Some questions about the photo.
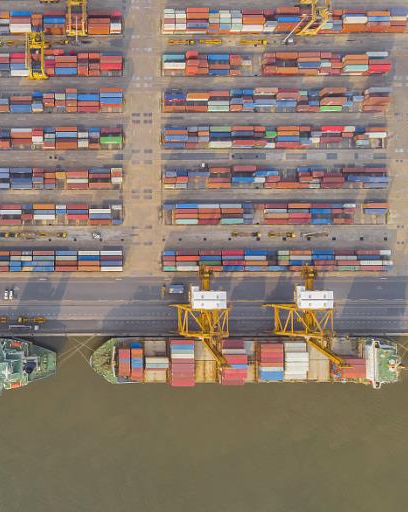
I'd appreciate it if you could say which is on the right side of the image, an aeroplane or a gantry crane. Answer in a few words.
gantry crane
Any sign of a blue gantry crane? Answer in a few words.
No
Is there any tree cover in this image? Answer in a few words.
No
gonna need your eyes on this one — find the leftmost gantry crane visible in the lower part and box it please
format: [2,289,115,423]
[172,263,234,367]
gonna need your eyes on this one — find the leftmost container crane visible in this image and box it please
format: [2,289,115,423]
[28,29,50,81]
